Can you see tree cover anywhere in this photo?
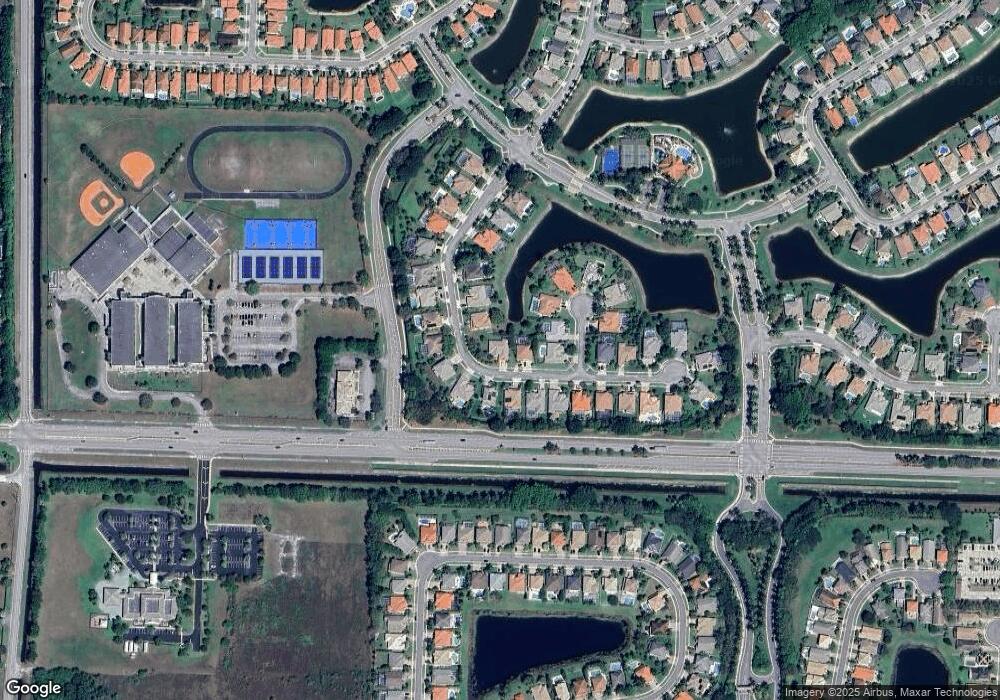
Yes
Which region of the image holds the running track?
top left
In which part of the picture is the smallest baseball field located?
top left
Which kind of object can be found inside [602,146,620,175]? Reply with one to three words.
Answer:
basketball court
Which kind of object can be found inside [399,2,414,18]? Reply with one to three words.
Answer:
swimming pool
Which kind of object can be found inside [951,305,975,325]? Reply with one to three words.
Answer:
house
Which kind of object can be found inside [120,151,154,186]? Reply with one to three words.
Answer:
baseball field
